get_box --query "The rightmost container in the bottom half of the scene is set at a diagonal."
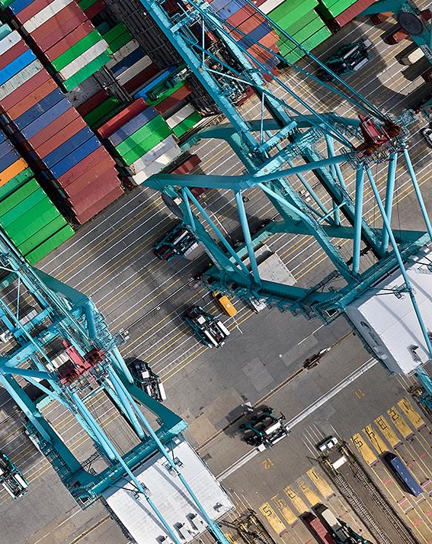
[385,453,424,496]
